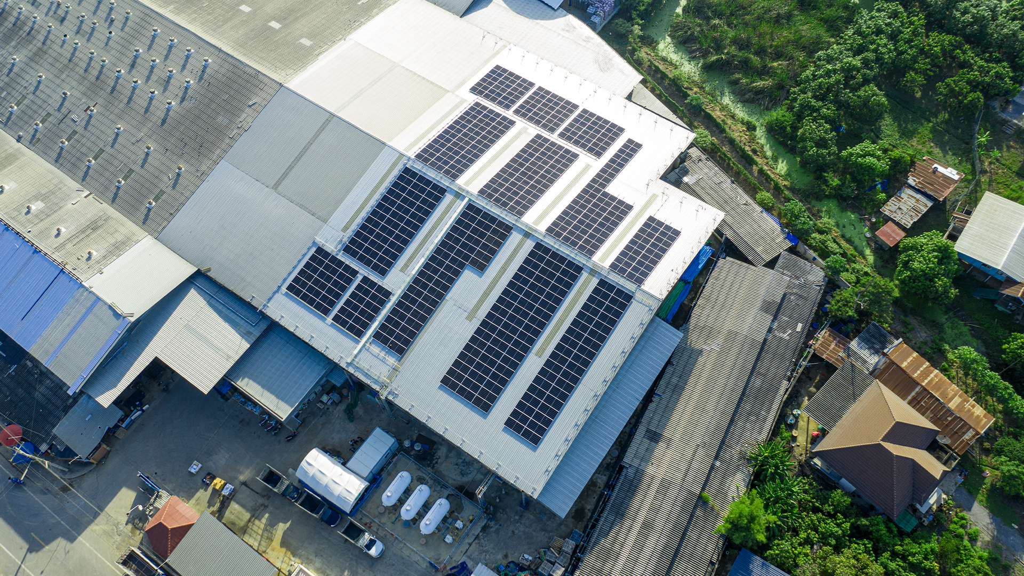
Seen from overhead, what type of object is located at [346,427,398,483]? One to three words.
building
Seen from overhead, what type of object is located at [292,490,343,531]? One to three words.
truck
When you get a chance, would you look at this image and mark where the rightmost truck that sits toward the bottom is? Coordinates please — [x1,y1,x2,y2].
[336,519,387,562]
